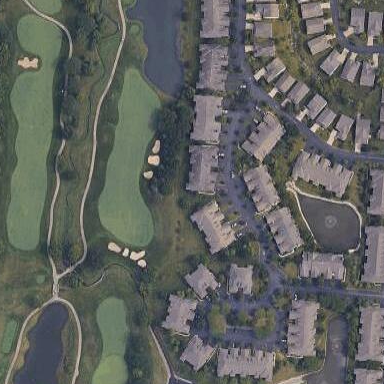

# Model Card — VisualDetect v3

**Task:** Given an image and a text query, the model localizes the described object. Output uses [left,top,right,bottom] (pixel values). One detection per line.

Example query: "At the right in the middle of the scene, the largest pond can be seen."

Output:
[298,192,360,252]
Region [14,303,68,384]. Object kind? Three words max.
pond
